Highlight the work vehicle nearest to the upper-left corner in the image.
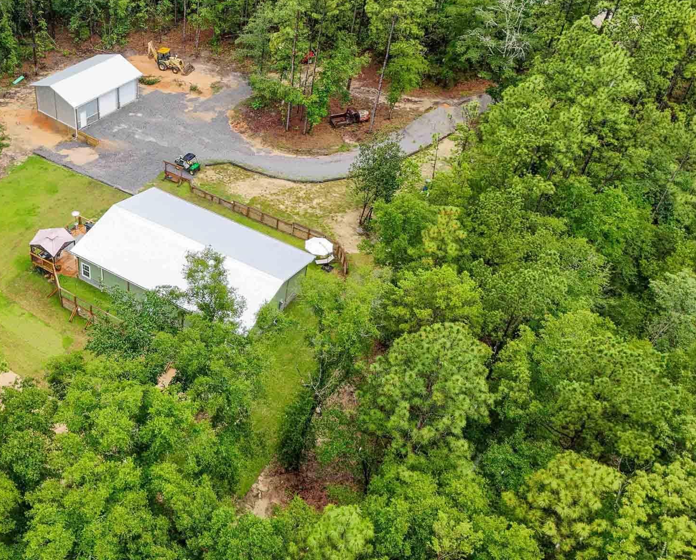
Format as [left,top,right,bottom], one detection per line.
[141,41,197,81]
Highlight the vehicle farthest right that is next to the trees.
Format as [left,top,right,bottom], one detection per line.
[328,109,372,129]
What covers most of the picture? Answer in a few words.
trees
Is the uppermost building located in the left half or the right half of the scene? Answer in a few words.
left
